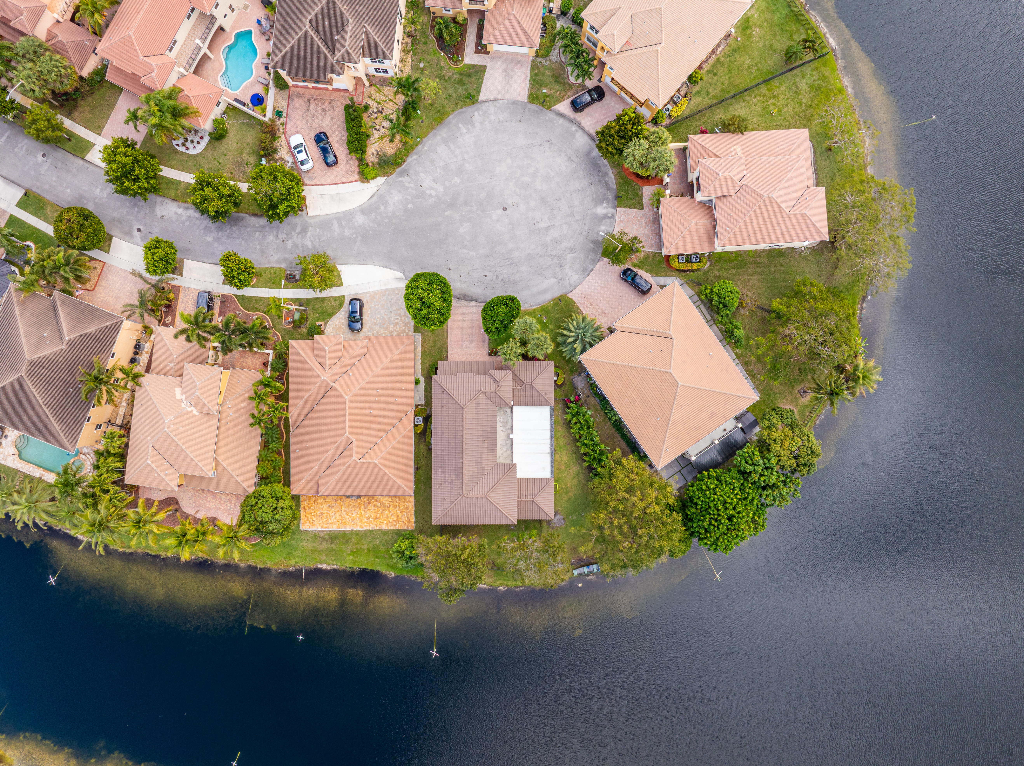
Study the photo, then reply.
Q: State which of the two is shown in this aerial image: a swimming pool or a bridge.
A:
swimming pool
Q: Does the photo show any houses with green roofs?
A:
No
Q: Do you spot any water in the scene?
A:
Yes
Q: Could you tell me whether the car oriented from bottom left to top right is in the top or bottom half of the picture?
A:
top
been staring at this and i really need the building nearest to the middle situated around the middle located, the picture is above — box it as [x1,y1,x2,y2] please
[432,360,555,526]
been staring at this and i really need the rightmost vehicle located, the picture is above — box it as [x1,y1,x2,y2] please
[620,268,653,295]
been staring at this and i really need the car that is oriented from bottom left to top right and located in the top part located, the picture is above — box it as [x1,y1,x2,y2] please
[570,84,605,114]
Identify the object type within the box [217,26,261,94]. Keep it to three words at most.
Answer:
swimming pool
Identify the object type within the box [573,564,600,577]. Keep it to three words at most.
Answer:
boat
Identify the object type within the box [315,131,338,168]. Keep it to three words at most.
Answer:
car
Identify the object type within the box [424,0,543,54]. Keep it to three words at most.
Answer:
house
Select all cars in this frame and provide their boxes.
[570,84,605,114]
[291,134,314,172]
[620,268,653,295]
[315,131,338,168]
[347,298,364,332]
[196,289,216,324]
